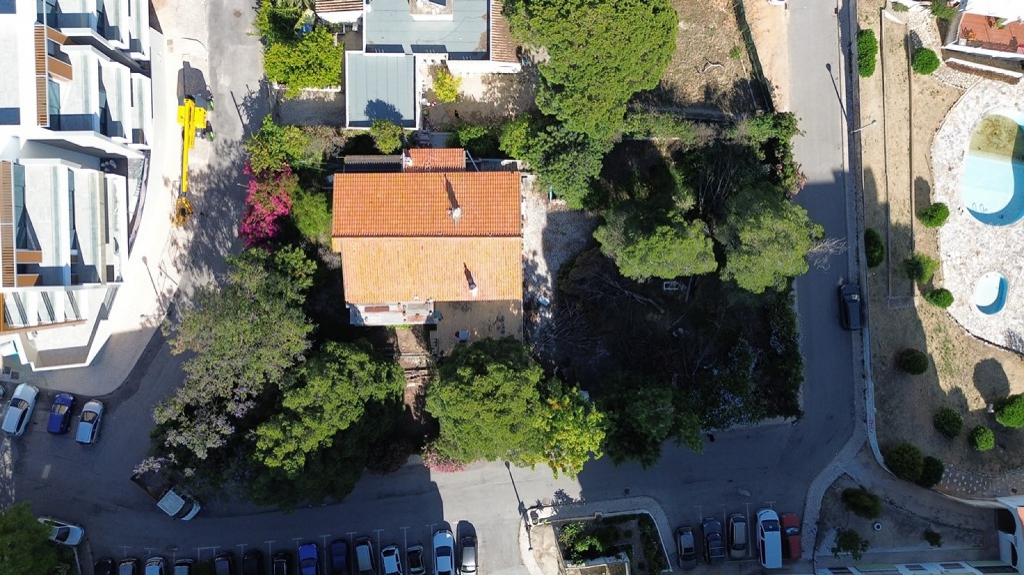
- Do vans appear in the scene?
Yes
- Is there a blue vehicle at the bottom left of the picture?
Yes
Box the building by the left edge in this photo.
[0,0,163,371]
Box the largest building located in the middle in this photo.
[331,170,523,303]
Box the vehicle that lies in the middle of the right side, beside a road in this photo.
[835,283,865,331]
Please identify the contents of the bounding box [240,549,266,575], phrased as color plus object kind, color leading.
black car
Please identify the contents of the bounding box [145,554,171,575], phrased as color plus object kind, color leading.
blue car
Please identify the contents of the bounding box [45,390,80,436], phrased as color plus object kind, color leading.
blue car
